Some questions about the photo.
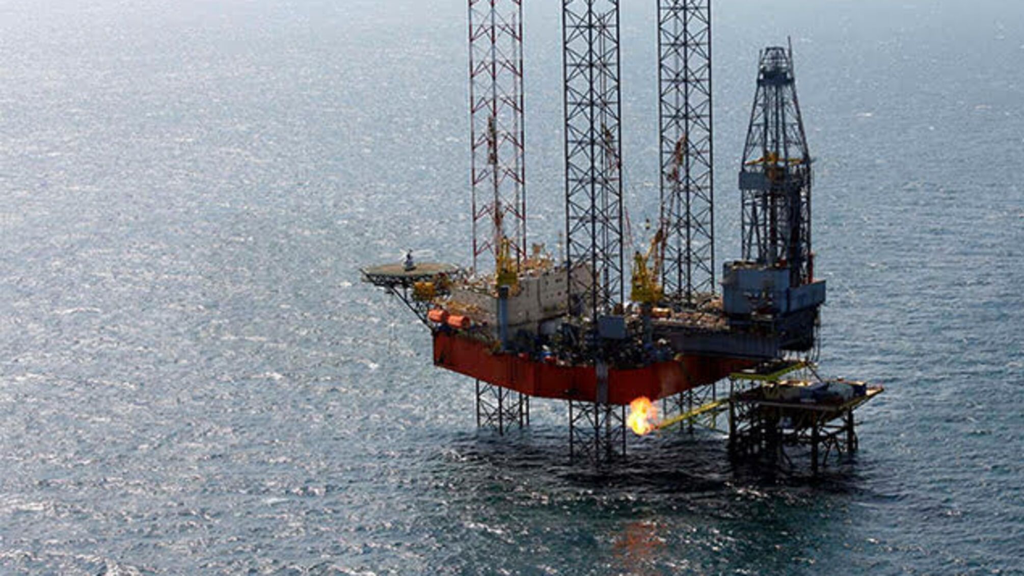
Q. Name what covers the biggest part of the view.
water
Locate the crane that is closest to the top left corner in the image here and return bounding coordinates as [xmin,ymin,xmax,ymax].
[488,113,515,345]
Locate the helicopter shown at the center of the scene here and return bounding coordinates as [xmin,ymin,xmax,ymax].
[387,246,433,270]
